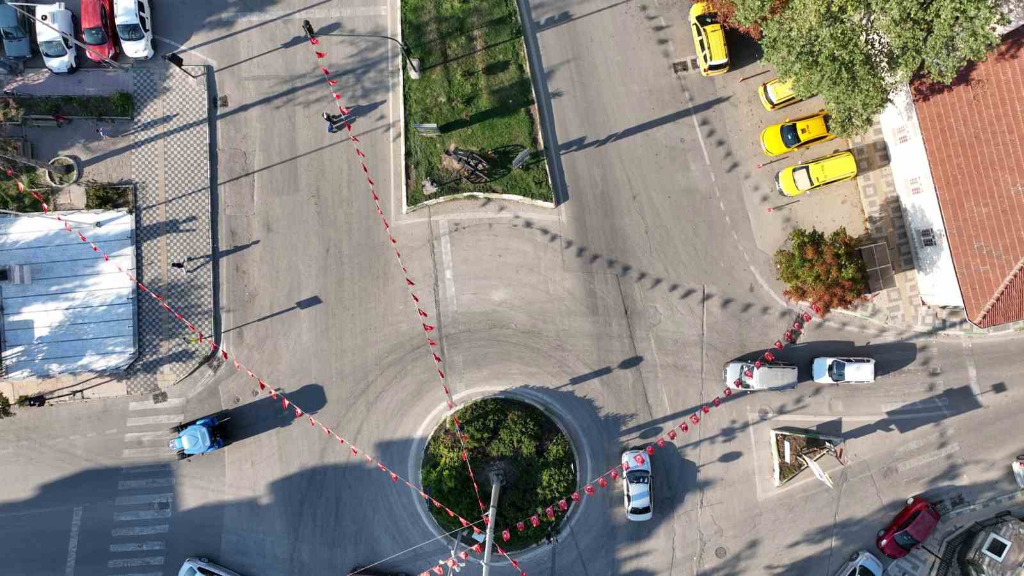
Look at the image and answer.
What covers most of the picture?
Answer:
paved ground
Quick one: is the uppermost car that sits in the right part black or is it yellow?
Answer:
yellow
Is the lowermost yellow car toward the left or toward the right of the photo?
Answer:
right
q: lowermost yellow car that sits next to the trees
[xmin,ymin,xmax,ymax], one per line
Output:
[772,149,858,197]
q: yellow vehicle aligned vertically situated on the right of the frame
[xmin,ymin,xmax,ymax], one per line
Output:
[687,4,729,80]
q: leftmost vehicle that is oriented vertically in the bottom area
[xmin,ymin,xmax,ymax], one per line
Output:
[620,445,655,520]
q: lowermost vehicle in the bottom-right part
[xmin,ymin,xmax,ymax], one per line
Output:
[830,550,880,576]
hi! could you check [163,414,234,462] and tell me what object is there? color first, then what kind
blue work vehicle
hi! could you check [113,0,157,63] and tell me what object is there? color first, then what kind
white car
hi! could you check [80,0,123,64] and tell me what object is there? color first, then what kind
red car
